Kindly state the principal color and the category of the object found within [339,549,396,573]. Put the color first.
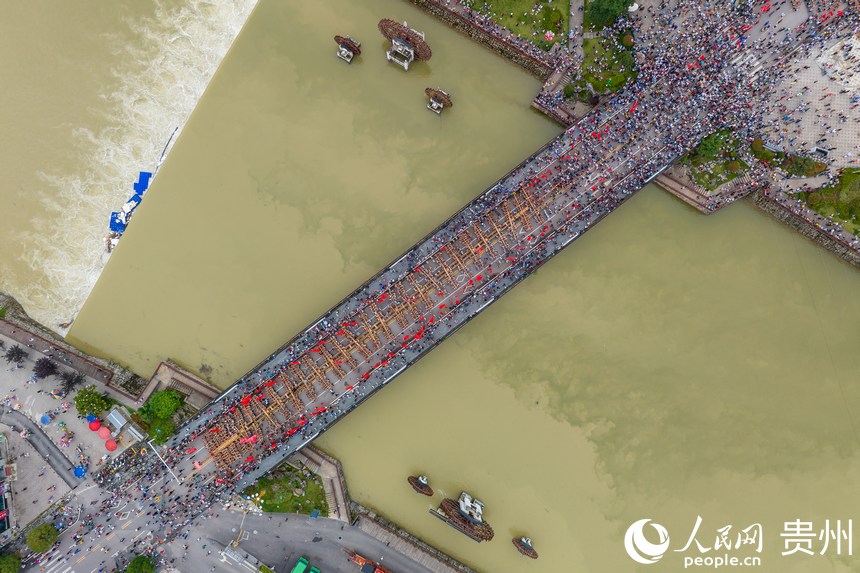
red truck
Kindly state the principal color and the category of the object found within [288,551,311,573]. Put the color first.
green bus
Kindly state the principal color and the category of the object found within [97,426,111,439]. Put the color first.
pink umbrella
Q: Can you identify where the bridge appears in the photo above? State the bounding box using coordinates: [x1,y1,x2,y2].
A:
[178,98,670,497]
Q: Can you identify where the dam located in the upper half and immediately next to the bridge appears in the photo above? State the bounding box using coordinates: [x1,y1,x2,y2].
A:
[56,0,259,339]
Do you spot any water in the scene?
Yes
